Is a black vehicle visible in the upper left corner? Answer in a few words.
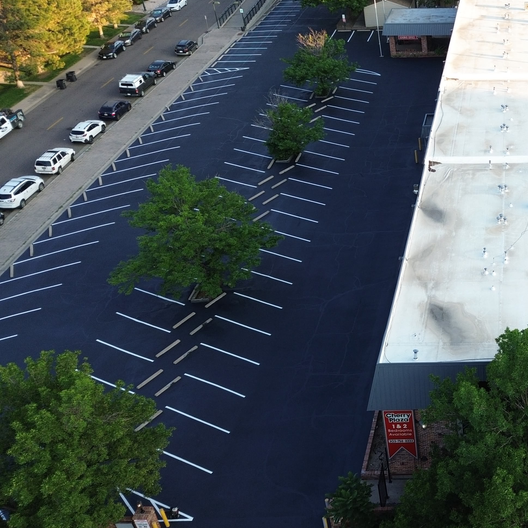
Yes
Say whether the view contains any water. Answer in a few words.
No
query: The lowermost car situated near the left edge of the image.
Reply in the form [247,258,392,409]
[0,179,42,213]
